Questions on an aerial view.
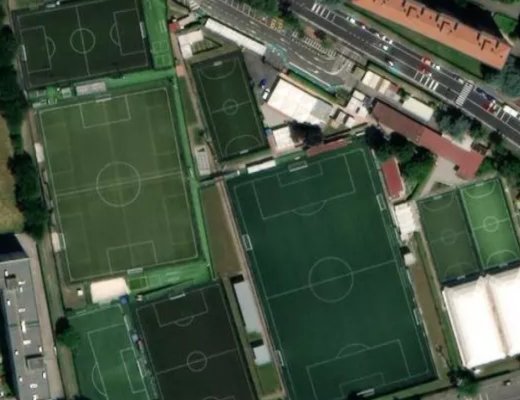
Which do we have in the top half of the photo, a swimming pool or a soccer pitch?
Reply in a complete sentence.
Looking in the top half of the photo, you will find a soccer pitch.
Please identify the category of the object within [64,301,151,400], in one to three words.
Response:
soccer field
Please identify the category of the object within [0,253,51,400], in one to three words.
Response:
building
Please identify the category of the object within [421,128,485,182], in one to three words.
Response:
house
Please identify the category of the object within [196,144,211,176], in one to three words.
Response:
shed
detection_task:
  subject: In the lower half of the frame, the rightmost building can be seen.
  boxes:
[483,268,520,355]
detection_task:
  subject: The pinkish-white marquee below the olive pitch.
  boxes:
[91,277,128,303]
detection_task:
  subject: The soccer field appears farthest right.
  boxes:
[461,180,520,274]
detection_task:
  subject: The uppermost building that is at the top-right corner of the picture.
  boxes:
[350,0,511,70]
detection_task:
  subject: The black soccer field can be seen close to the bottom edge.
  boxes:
[132,281,255,400]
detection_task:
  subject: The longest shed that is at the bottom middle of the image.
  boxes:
[233,278,264,336]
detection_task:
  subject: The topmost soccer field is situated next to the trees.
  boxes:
[13,0,151,92]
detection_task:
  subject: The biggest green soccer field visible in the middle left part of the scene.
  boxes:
[37,86,200,284]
